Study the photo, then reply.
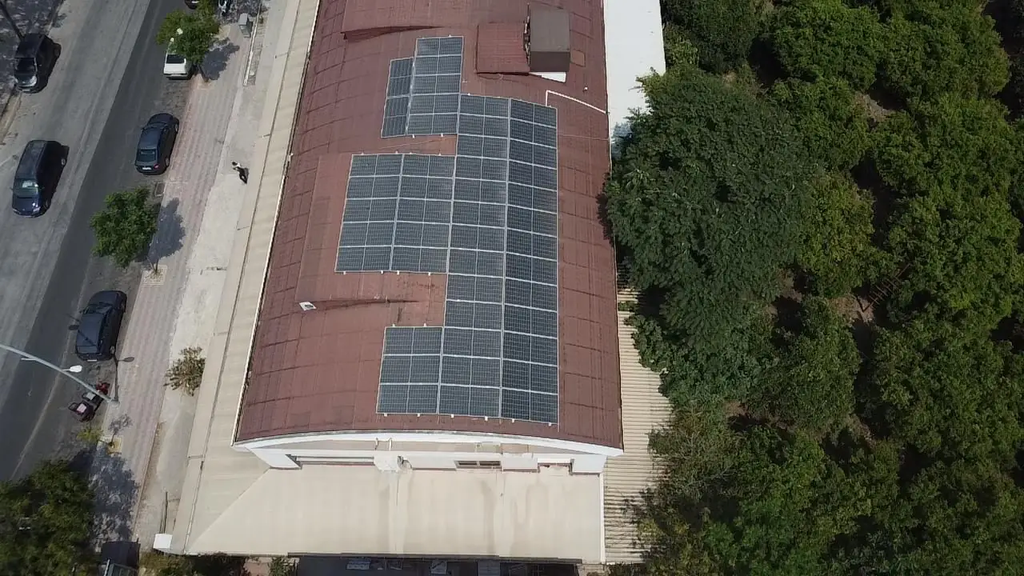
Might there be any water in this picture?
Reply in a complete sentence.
No, the picture contains no water.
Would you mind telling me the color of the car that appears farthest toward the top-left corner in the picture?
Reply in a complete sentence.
The color of the car that appears farthest toward the top-left corner is black.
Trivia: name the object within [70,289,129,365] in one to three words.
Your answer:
car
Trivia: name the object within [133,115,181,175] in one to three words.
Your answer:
car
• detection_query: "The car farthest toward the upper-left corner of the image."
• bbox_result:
[12,45,60,101]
